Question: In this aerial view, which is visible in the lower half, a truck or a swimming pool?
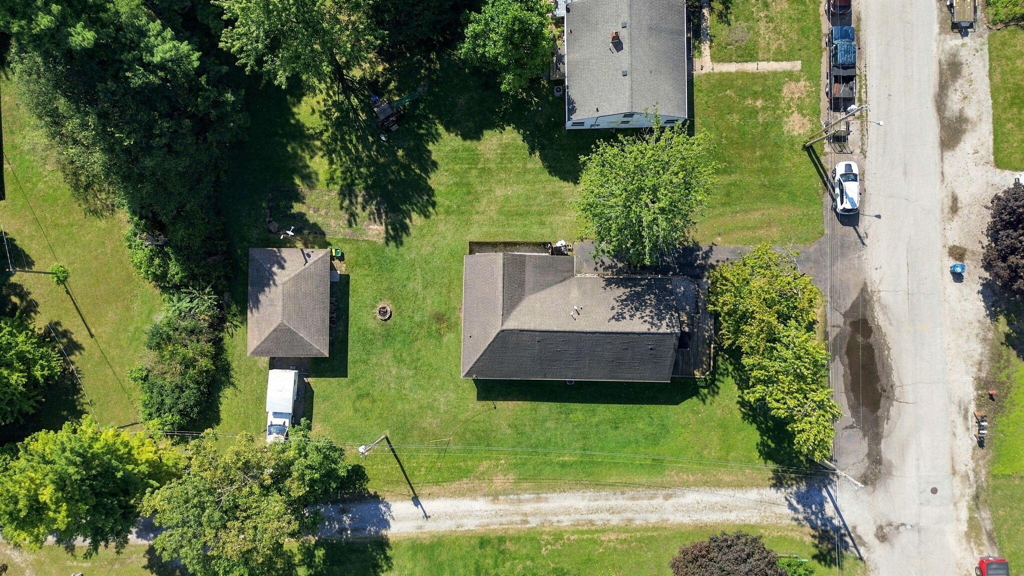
truck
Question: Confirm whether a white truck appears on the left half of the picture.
Yes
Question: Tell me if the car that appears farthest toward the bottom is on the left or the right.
right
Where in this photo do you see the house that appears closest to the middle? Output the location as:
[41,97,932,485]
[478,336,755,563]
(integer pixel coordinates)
[460,253,680,383]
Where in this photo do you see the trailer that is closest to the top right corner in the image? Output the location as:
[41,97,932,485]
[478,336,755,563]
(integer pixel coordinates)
[943,0,980,44]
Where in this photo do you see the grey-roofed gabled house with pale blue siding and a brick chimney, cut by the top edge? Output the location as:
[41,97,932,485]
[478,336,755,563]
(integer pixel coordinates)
[564,0,688,130]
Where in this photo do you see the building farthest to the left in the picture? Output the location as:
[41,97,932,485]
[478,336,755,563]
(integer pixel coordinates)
[247,247,333,358]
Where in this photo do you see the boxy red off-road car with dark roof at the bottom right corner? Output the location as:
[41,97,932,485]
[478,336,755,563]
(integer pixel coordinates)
[972,554,1009,576]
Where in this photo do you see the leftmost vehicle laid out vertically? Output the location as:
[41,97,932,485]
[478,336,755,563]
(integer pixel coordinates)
[268,368,306,447]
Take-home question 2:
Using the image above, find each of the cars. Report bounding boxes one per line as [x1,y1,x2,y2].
[972,554,1009,576]
[829,162,861,218]
[823,0,850,19]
